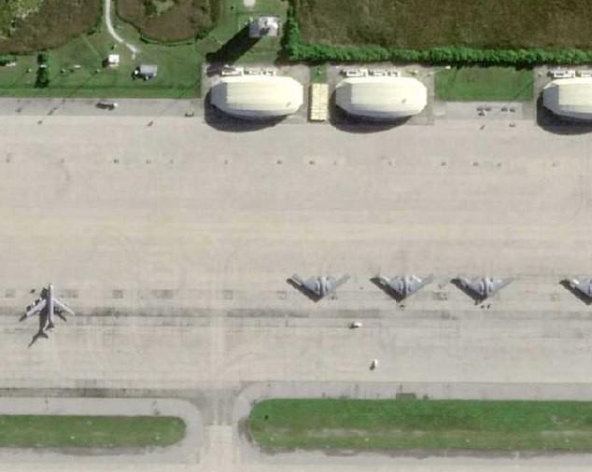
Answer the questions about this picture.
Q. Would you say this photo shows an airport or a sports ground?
airport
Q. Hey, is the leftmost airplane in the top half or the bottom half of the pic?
bottom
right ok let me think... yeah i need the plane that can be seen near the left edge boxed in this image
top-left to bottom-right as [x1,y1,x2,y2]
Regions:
[28,285,75,333]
